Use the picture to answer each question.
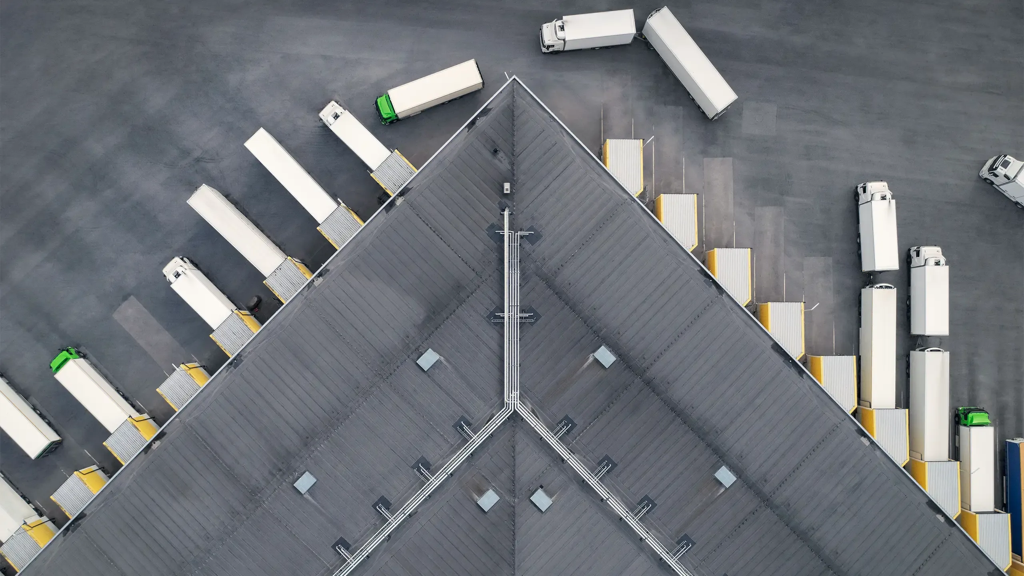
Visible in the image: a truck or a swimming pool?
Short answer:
truck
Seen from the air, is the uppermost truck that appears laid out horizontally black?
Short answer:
No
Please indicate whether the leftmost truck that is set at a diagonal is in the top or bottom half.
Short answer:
bottom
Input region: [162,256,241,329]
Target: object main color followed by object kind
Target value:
white truck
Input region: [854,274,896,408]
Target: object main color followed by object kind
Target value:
white trailer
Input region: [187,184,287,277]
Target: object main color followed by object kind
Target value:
white trailer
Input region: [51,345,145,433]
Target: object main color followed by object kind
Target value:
white truck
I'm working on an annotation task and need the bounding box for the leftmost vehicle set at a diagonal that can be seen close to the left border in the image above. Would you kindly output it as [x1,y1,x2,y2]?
[0,362,70,460]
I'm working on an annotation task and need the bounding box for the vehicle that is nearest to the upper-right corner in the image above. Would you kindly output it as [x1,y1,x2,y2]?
[976,151,1024,201]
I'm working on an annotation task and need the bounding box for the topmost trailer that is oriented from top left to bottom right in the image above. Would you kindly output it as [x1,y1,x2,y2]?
[636,7,737,120]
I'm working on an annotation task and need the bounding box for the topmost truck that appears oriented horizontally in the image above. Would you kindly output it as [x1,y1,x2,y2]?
[540,9,636,55]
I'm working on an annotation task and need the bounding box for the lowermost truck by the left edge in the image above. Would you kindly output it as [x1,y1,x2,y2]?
[0,475,39,541]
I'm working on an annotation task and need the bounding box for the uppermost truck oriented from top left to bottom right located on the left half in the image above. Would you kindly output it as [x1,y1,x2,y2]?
[319,100,392,169]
